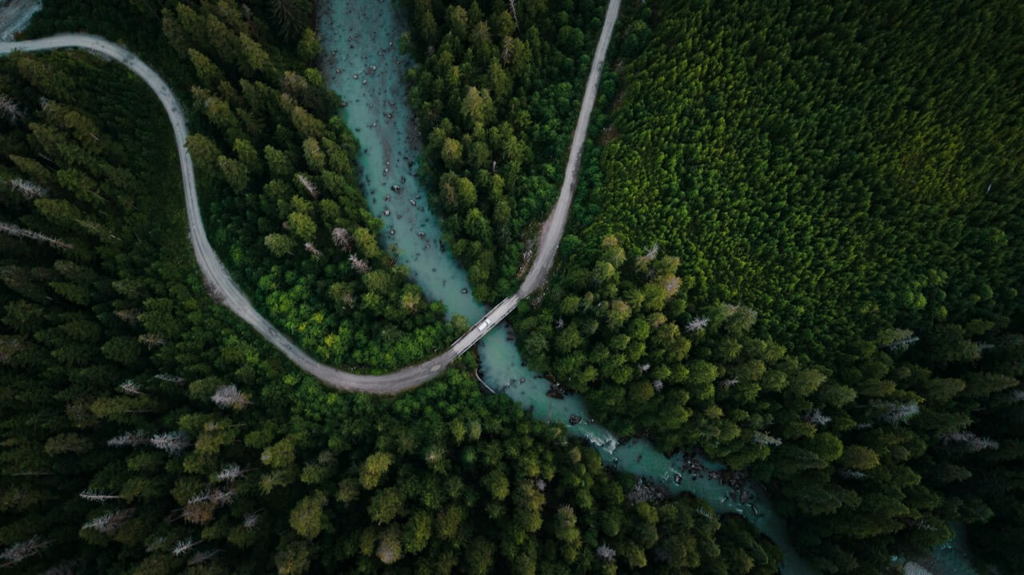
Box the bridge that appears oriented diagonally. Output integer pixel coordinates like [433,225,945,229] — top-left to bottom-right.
[449,291,526,359]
